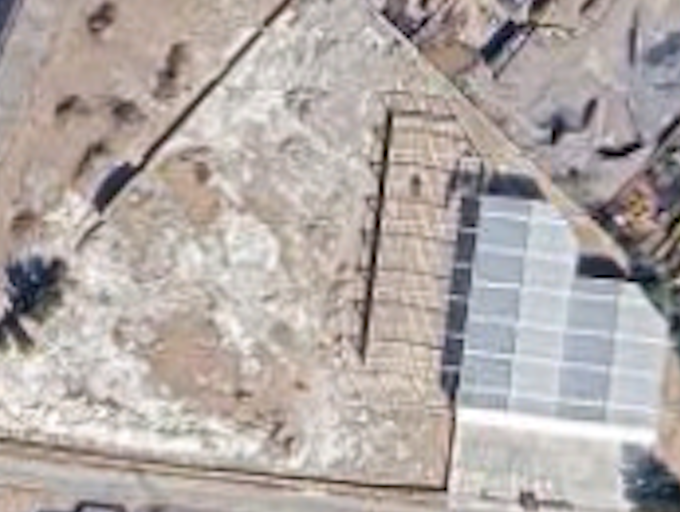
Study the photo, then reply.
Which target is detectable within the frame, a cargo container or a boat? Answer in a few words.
cargo container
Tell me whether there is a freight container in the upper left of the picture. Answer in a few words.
No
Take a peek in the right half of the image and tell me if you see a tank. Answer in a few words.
No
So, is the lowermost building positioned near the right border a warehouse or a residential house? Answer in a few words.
warehouse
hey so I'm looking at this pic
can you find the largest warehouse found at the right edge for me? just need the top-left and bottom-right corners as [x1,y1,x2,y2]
[444,198,670,440]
